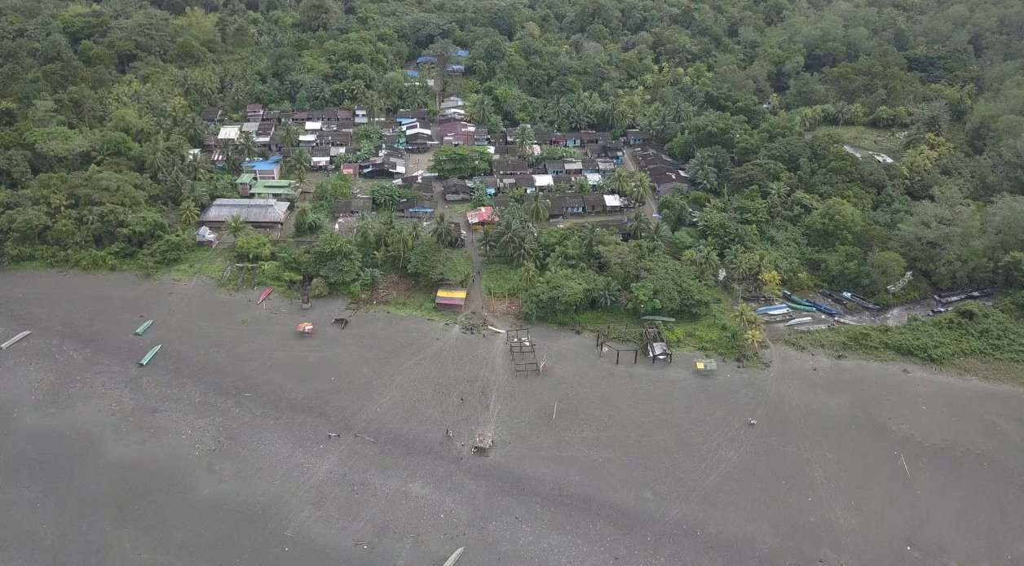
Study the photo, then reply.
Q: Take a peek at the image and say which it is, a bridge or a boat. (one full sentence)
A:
Of the two, only a boat appears.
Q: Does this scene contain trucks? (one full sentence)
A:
No, this view has no truck in it.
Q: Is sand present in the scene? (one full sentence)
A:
Yes, some sand is visible.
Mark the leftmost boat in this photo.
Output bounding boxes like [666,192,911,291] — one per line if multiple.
[0,330,32,350]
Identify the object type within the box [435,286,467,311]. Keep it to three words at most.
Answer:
shed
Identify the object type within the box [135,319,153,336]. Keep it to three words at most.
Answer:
boat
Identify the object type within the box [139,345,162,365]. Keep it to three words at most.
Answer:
boat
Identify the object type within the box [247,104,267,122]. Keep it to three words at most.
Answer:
house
